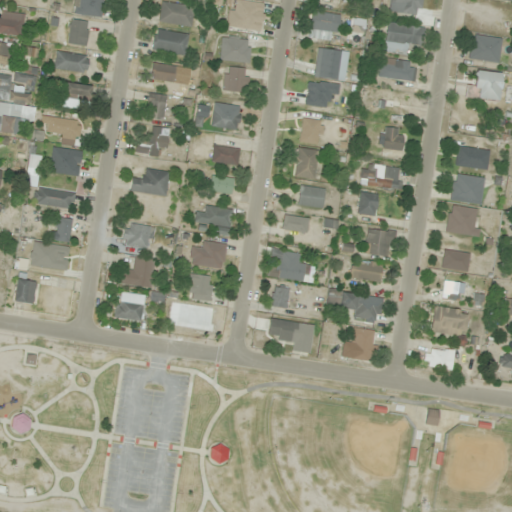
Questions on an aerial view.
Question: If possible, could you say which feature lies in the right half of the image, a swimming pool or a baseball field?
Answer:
baseball field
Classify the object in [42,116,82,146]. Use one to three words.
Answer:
house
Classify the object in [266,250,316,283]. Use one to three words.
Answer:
house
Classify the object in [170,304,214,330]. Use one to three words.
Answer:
building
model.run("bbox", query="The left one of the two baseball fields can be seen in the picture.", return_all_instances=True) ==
[257,396,416,512]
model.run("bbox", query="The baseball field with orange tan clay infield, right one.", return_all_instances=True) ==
[432,424,512,512]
